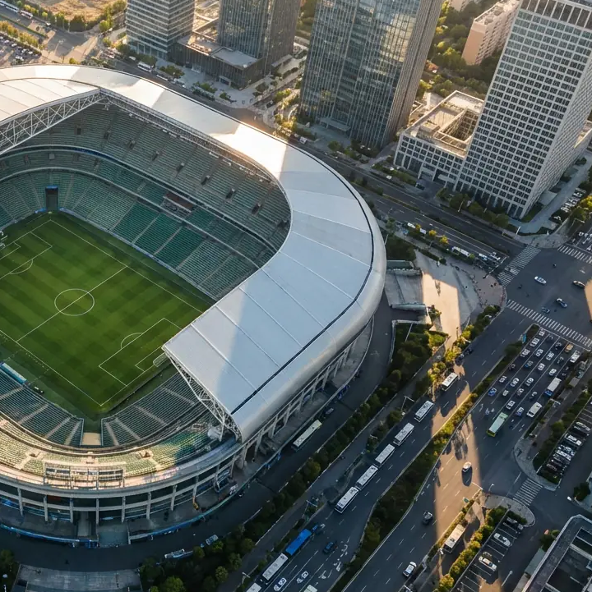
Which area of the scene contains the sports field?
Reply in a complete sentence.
You can find the sports field in the left area of the picture.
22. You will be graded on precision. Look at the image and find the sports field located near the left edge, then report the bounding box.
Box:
[0,216,207,415]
